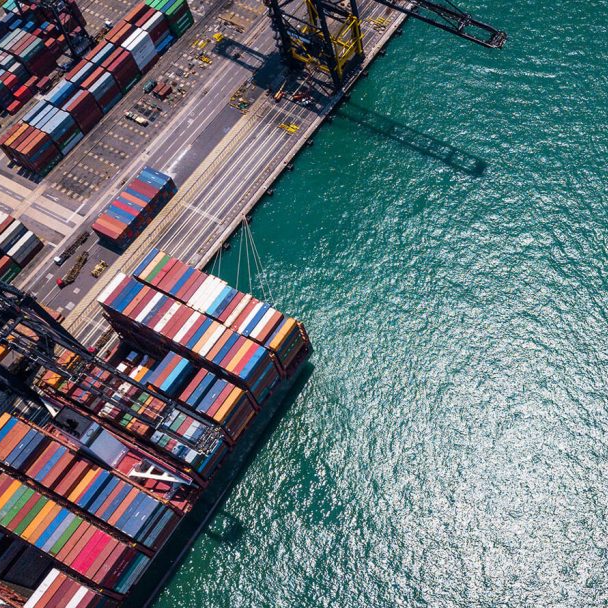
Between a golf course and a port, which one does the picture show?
port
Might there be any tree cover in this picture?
No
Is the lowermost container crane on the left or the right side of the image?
left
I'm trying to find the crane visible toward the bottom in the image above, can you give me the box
[0,283,231,465]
